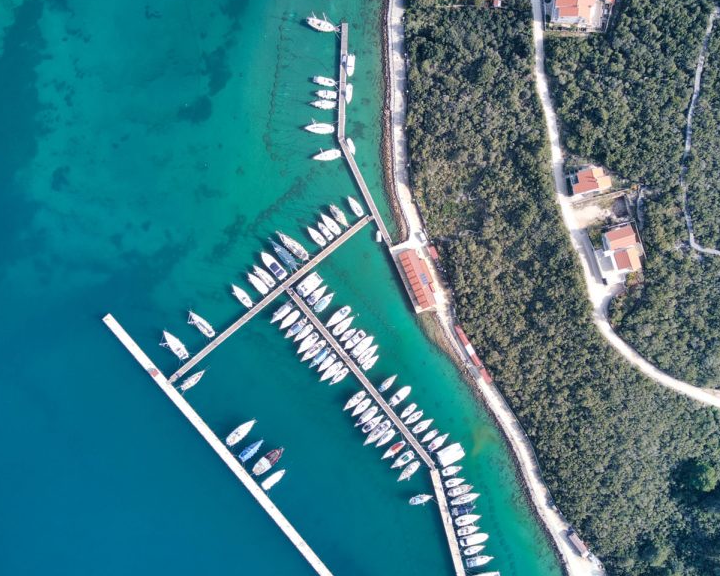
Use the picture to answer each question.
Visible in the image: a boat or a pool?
boat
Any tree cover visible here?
Yes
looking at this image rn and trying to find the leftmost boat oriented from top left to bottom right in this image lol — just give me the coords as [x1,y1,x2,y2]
[160,331,188,360]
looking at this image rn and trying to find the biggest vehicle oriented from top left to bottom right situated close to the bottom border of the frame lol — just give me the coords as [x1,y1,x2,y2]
[570,533,589,559]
